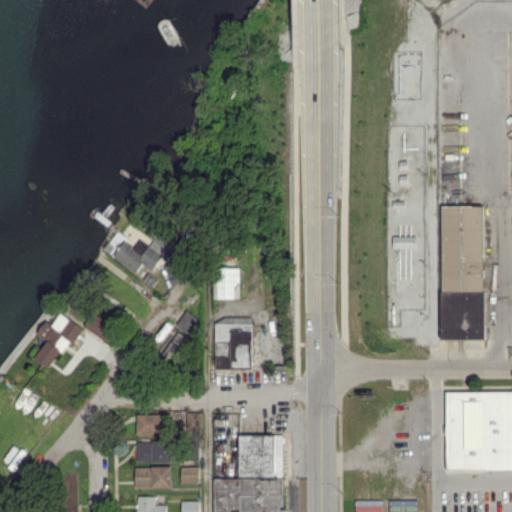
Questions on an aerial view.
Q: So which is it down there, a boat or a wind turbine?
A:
boat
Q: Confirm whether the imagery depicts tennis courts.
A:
No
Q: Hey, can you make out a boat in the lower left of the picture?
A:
Yes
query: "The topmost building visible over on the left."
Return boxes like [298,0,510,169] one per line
[104,225,166,276]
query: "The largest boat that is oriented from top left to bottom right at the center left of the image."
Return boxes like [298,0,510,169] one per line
[92,212,114,229]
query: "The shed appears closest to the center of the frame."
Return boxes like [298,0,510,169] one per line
[214,268,240,300]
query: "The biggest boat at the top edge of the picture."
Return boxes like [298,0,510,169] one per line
[162,19,185,48]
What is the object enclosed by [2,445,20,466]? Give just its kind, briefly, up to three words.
boat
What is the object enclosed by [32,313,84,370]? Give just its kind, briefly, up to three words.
house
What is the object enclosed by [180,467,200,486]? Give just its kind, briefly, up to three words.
building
